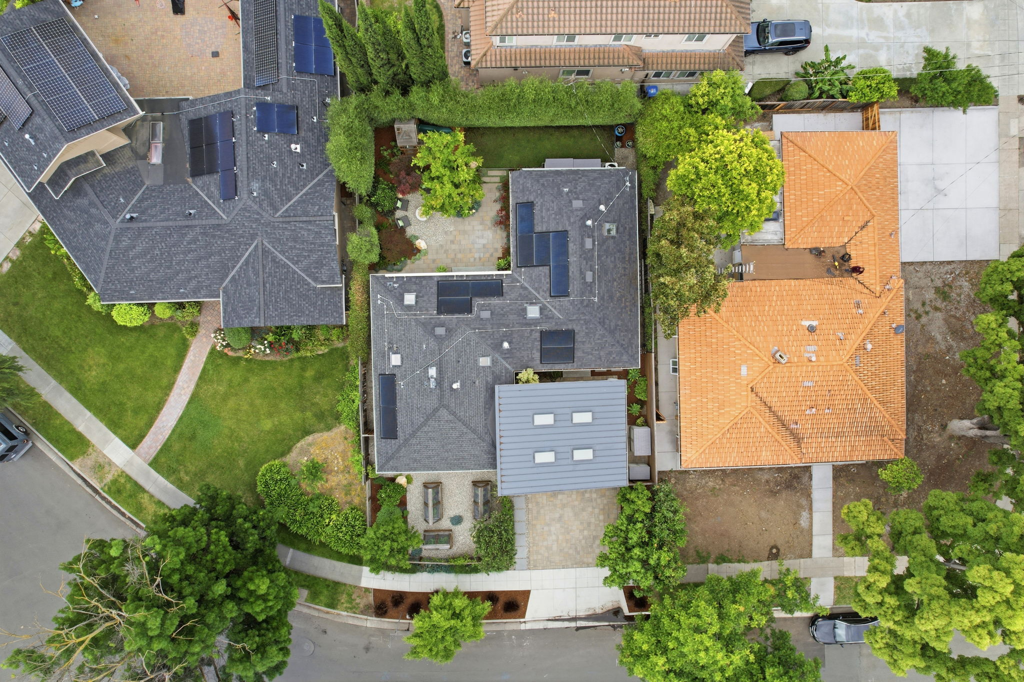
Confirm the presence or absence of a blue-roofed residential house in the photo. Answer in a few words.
No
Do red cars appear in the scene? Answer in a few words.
No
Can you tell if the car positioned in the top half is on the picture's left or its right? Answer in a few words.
right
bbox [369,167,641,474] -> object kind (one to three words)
house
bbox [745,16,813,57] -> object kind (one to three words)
car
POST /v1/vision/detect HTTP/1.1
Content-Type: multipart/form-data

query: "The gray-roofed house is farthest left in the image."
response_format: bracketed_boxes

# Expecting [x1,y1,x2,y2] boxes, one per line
[0,0,348,327]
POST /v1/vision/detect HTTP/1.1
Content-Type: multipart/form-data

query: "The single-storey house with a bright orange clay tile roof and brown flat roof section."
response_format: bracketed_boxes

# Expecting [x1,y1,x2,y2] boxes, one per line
[664,130,910,470]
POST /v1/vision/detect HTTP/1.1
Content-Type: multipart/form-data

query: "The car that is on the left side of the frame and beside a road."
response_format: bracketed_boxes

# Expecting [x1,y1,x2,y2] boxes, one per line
[0,411,36,461]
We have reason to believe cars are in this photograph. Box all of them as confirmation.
[745,16,813,57]
[803,605,869,644]
[0,411,36,461]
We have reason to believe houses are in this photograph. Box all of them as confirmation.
[664,130,910,470]
[0,0,348,327]
[369,167,641,474]
[453,0,752,83]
